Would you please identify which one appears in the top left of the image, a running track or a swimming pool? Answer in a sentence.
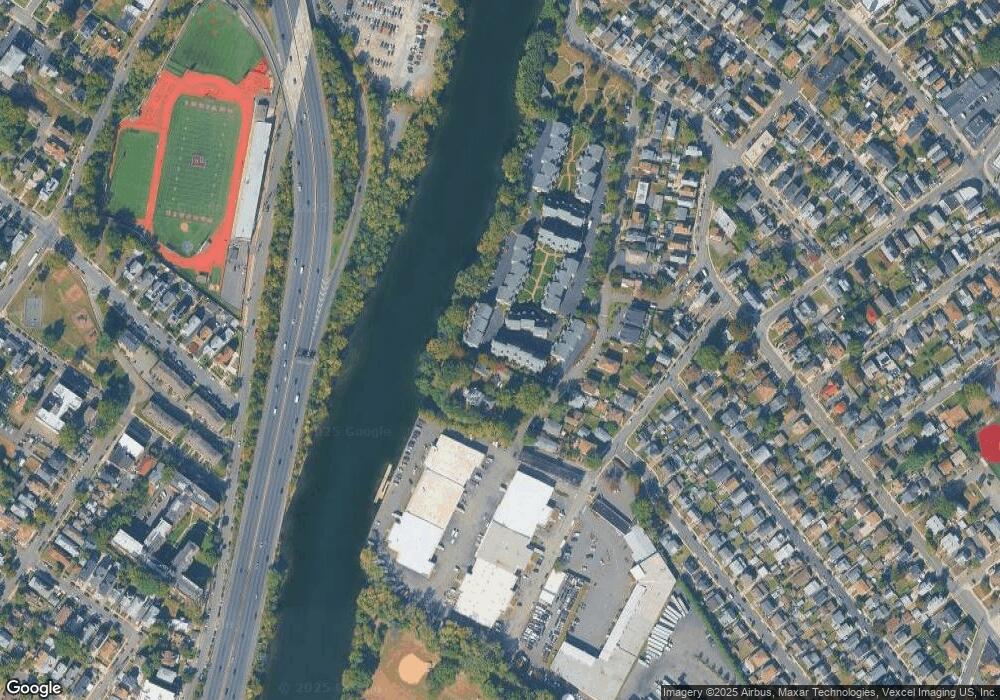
The one visible in the top left of the image is a running track.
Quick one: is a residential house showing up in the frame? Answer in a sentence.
Yes, the image includes a residential house.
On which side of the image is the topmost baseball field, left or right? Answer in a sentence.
You can find the topmost baseball field on the left side of the picture.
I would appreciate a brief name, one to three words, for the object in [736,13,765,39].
house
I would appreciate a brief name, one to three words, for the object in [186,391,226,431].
building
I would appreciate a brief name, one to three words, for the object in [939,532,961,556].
house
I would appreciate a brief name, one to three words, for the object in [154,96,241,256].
sports field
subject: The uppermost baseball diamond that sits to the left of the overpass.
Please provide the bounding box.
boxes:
[166,0,261,84]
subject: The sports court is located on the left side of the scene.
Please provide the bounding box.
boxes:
[24,297,42,328]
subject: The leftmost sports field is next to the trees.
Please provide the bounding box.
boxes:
[108,129,157,219]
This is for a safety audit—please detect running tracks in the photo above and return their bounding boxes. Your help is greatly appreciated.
[119,62,271,272]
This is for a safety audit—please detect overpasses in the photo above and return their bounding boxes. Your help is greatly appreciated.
[282,0,312,127]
